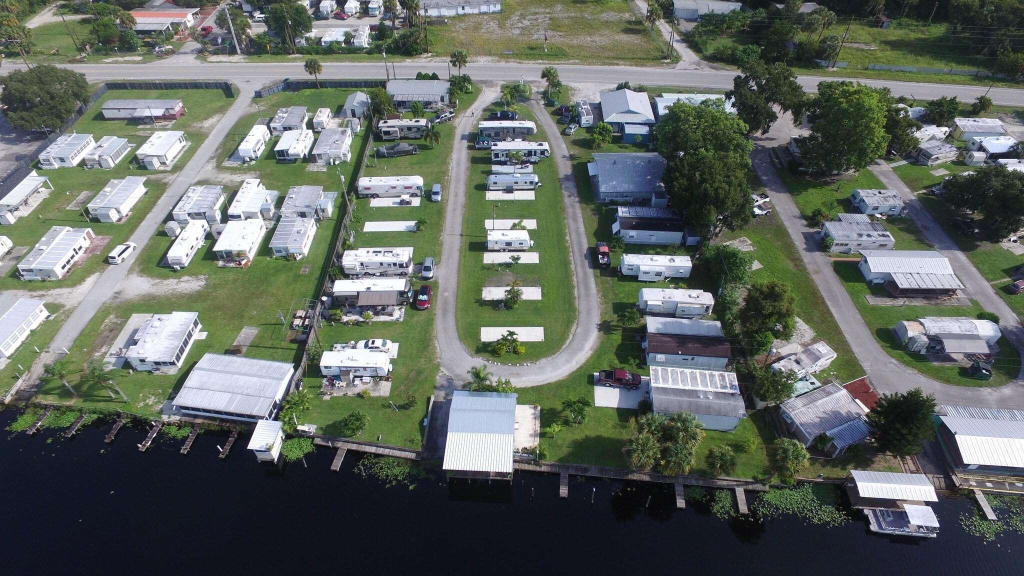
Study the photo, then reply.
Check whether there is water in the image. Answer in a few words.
Yes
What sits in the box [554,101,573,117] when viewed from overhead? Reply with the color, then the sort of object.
black car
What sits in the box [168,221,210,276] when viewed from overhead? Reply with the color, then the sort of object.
white trailer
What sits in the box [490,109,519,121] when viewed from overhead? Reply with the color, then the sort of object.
black vehicle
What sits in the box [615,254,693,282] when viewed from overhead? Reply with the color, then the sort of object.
white trailer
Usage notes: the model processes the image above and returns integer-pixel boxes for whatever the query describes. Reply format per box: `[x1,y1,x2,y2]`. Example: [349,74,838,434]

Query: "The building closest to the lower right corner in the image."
[934,405,1024,477]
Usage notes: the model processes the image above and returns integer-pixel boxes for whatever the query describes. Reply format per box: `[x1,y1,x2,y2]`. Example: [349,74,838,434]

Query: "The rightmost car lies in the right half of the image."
[1003,275,1024,299]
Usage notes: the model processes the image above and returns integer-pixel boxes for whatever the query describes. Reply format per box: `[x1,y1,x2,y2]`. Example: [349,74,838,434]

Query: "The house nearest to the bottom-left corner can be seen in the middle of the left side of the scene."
[0,296,50,361]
